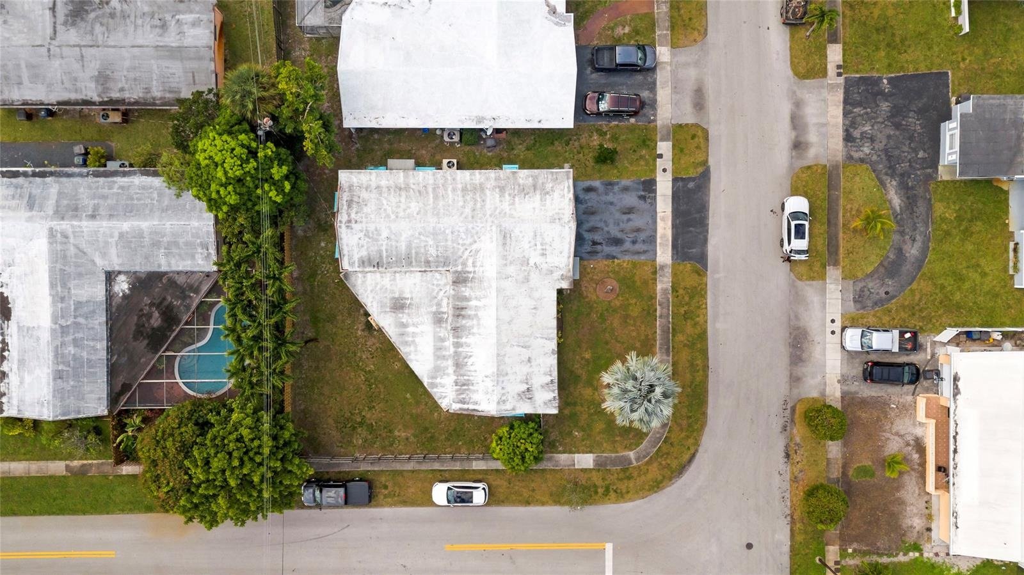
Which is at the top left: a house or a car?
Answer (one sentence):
You can see a house at the top left.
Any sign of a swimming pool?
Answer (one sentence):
Yes, the photo shows a swimming pool.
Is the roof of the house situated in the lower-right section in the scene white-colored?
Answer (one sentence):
Yes, white is the color of the roof of the house situated in the lower-right section.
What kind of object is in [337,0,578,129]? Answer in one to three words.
house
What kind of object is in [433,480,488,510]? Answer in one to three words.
car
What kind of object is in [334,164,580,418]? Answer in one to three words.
house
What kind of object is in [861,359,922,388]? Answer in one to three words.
car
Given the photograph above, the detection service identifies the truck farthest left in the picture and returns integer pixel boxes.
[303,479,373,510]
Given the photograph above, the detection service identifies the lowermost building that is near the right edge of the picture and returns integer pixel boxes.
[918,348,1024,564]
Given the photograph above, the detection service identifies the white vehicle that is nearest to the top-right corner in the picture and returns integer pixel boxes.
[779,198,813,259]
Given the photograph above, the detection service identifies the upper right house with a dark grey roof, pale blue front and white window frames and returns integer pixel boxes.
[941,94,1024,181]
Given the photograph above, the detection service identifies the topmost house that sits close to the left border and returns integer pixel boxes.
[0,0,239,108]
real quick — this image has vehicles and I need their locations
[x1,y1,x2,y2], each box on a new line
[433,480,488,510]
[861,359,922,388]
[843,326,920,355]
[780,0,810,26]
[590,41,656,73]
[583,88,641,118]
[779,198,813,259]
[303,479,373,510]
